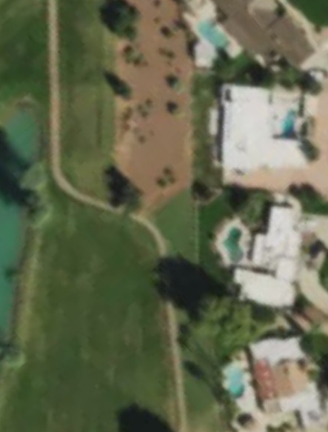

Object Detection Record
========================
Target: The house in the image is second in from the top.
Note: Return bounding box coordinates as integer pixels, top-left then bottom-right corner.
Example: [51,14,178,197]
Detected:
[224,86,307,174]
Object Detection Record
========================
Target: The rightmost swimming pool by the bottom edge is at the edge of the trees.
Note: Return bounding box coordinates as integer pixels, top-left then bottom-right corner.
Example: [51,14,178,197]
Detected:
[223,357,267,432]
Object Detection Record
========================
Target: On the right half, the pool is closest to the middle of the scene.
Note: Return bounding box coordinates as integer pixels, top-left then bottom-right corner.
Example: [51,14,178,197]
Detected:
[214,218,254,268]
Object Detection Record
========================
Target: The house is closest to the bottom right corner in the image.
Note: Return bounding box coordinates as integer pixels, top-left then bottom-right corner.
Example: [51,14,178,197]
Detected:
[250,337,321,427]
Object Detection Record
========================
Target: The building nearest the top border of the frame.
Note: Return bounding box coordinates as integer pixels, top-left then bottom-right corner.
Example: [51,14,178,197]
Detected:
[212,0,325,67]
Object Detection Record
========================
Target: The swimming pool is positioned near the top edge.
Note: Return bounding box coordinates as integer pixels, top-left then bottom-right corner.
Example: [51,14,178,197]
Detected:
[185,0,242,66]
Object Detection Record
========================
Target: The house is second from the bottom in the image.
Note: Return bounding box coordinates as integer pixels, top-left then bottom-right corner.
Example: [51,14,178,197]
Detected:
[235,205,301,307]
